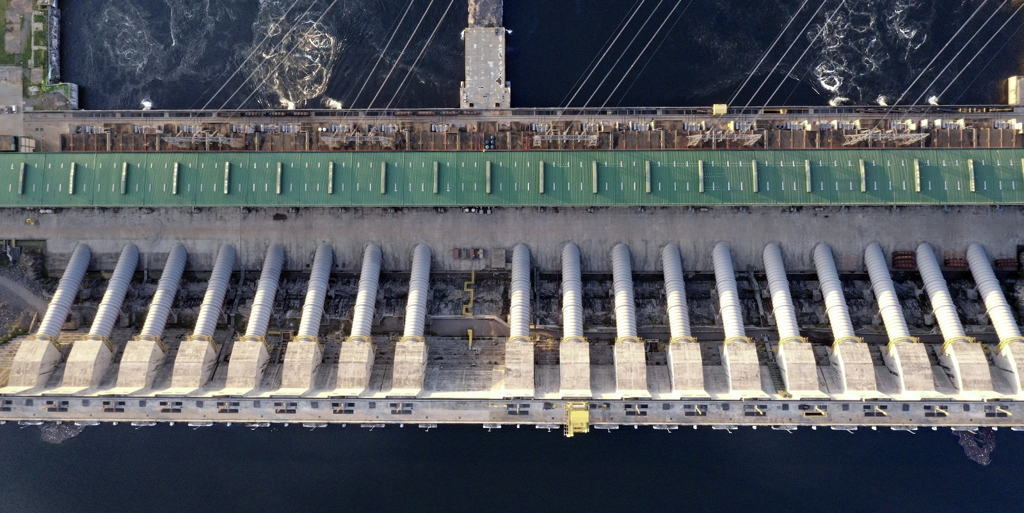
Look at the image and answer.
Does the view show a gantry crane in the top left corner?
No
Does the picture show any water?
Yes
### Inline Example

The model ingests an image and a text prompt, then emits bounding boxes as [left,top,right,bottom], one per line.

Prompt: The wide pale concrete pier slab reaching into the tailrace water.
[460,27,511,108]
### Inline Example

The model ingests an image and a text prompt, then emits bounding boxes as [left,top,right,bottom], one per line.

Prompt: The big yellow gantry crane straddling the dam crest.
[565,400,590,436]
